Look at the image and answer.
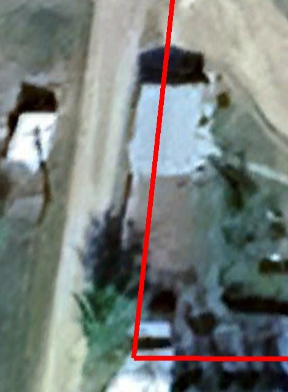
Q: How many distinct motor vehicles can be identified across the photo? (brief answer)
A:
zero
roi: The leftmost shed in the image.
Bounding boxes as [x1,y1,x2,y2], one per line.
[7,105,56,173]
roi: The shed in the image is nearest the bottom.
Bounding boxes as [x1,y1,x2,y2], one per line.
[110,342,172,392]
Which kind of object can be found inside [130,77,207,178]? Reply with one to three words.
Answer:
shed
